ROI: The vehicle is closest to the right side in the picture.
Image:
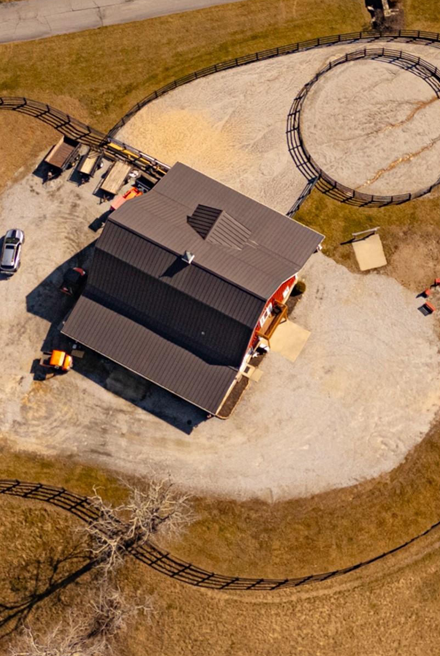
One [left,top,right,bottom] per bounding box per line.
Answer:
[114,183,151,210]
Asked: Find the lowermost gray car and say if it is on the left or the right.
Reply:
left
